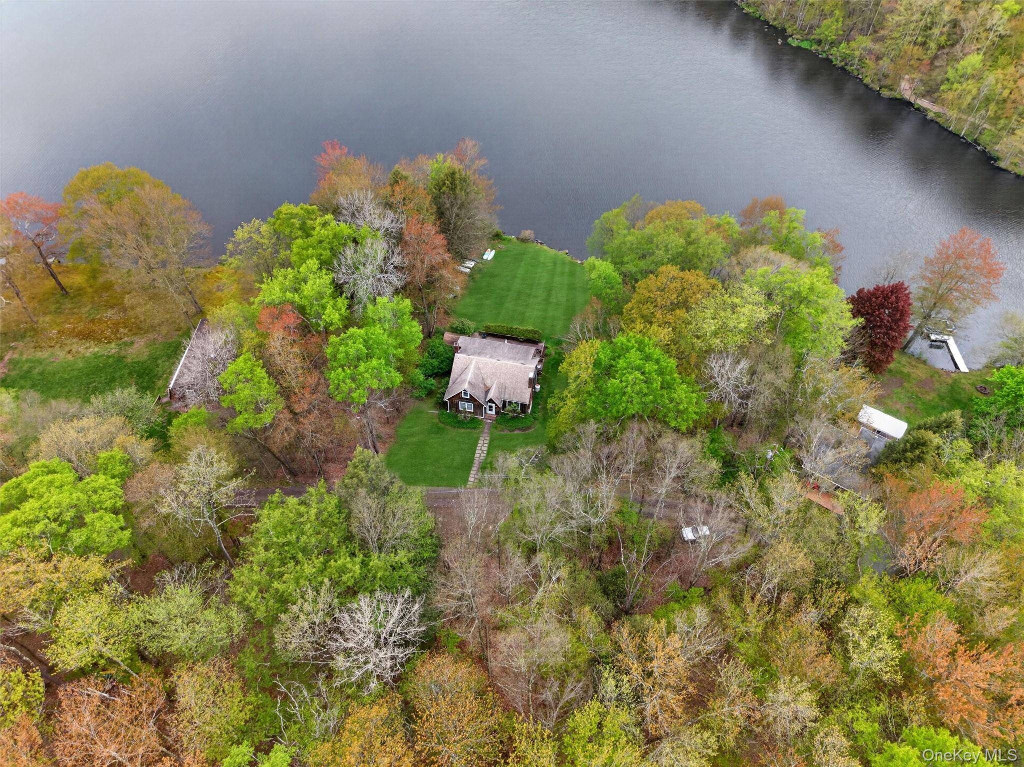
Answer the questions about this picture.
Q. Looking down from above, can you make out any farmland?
No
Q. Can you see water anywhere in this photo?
Yes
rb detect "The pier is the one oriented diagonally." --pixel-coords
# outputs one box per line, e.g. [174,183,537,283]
[929,333,968,372]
